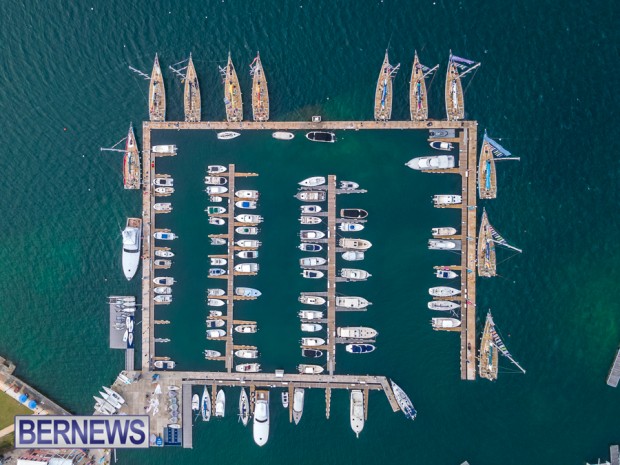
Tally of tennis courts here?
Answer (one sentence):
The photo contains no tennis courts.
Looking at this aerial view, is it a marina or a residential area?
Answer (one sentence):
The area seen from above is a marina.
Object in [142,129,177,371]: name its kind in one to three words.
pier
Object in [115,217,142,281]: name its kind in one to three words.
boat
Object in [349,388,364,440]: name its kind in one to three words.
boat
